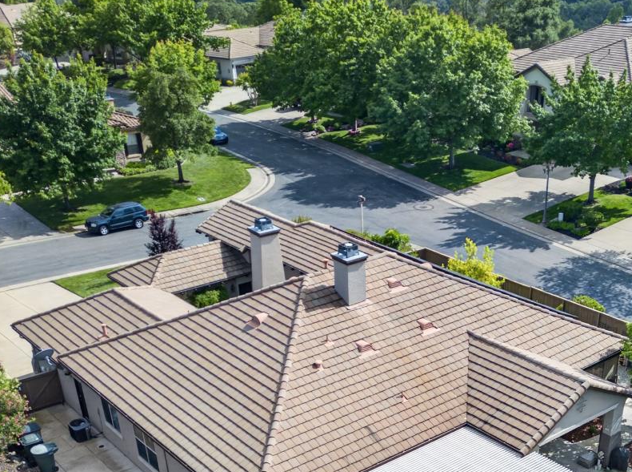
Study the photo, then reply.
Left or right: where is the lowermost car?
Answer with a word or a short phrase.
left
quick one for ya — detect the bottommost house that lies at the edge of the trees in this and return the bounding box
[11,197,632,472]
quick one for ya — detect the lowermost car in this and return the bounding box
[81,201,145,235]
